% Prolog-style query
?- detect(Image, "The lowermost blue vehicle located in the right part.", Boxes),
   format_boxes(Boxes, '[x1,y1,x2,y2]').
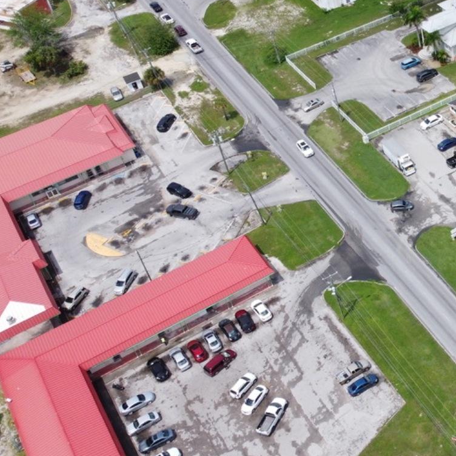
[348,374,381,398]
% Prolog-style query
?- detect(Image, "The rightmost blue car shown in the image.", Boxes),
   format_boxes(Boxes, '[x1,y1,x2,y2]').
[438,136,456,151]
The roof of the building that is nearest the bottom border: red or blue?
red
